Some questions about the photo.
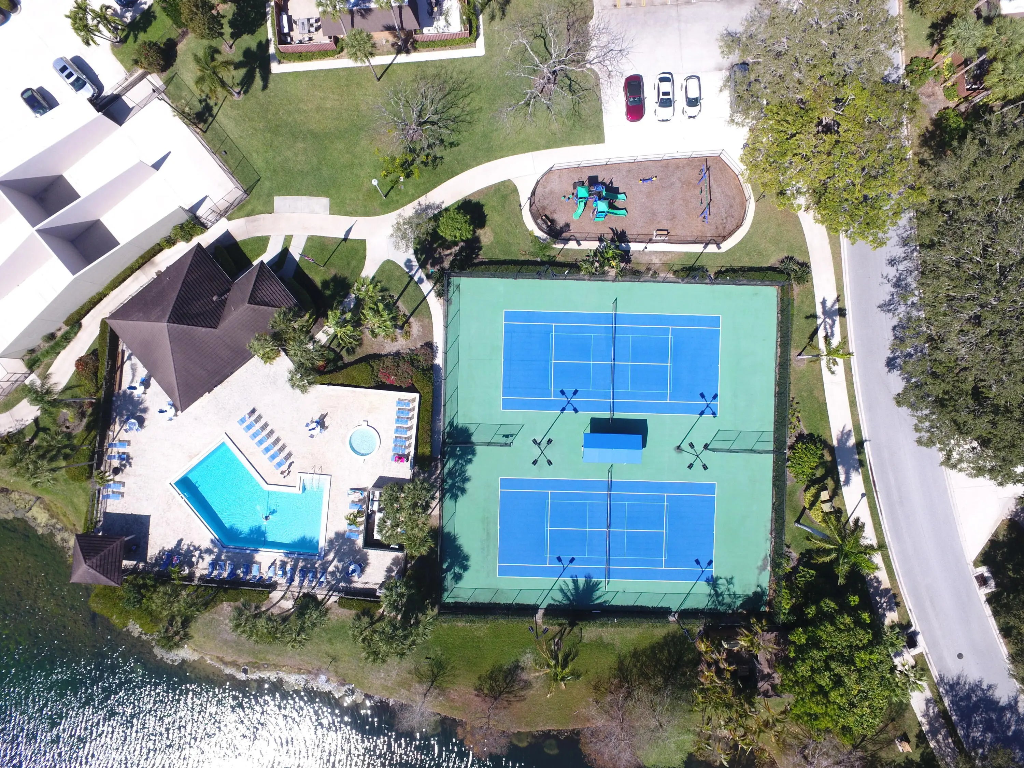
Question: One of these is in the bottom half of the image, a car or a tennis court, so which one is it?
tennis court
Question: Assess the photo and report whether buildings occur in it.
Yes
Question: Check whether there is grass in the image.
Yes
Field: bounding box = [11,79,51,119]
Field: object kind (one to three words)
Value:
car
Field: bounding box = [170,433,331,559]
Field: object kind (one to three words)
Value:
swimming pool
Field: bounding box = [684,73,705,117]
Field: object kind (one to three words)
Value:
car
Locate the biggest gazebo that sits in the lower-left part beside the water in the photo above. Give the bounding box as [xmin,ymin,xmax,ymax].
[71,532,134,586]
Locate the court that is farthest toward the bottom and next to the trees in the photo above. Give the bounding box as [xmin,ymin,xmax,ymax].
[440,441,773,614]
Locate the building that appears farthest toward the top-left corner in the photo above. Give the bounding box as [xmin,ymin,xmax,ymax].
[0,99,110,172]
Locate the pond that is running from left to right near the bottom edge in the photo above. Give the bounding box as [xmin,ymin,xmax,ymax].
[0,505,775,768]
